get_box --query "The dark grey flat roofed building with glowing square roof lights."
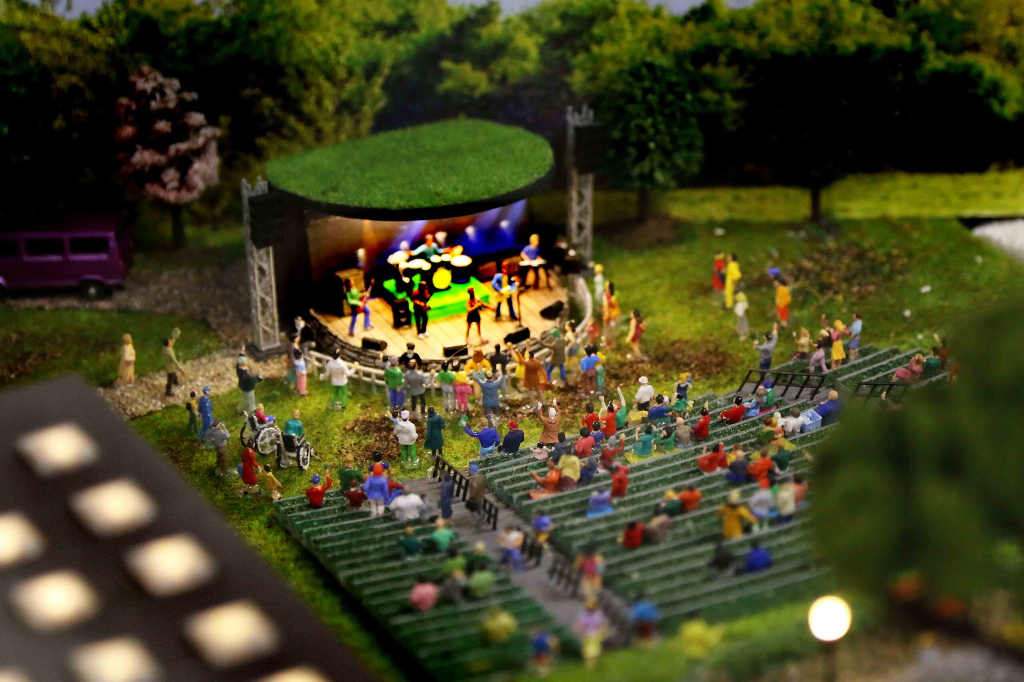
[0,374,329,682]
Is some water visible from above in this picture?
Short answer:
No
